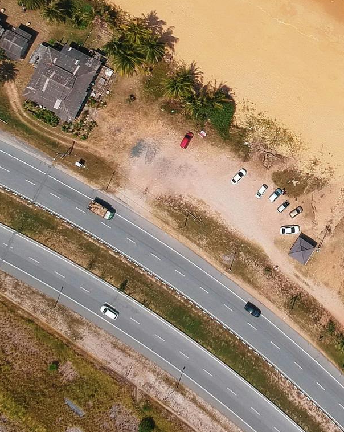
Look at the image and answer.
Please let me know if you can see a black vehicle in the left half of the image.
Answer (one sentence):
No, looking in the left half of the image, there is no black vehicle.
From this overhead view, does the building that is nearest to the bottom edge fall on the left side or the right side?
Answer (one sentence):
It is on the right.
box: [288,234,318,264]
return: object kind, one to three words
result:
building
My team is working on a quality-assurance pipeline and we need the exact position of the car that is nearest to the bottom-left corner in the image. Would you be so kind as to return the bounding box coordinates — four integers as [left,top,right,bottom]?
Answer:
[98,304,118,320]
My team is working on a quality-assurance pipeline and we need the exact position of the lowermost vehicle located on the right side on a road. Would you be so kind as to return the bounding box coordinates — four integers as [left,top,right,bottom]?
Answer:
[243,303,261,318]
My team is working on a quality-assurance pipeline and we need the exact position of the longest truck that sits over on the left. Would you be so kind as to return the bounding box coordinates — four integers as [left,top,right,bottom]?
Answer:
[83,197,115,220]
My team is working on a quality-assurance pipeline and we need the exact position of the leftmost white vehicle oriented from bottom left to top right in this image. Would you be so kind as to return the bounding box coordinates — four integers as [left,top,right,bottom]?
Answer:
[230,166,247,186]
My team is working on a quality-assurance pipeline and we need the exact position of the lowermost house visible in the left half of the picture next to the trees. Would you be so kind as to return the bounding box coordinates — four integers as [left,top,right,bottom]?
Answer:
[23,44,108,122]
